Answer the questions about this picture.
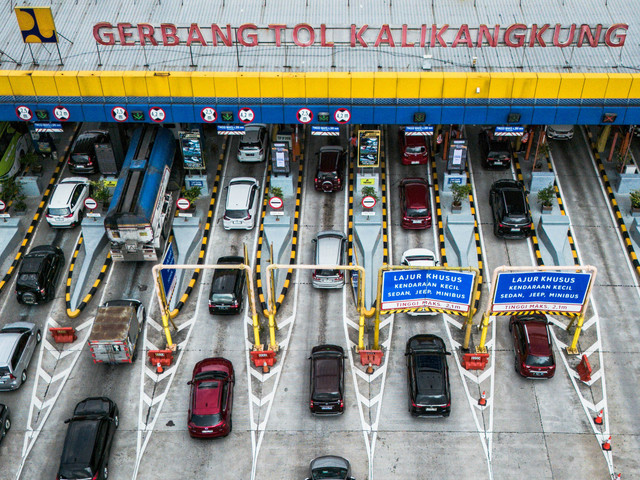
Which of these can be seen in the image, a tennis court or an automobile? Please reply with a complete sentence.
There is an automobile in the scene.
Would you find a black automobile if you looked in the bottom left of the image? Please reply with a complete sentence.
Yes, a black automobile shows up in the bottom left of the image.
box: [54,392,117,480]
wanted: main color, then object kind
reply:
black car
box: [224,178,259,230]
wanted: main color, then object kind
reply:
white car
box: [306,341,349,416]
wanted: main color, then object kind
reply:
black car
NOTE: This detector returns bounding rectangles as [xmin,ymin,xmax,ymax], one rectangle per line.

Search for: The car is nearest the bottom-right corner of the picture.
[509,318,554,380]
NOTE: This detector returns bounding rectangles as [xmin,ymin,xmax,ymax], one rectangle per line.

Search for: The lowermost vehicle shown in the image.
[305,455,355,480]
